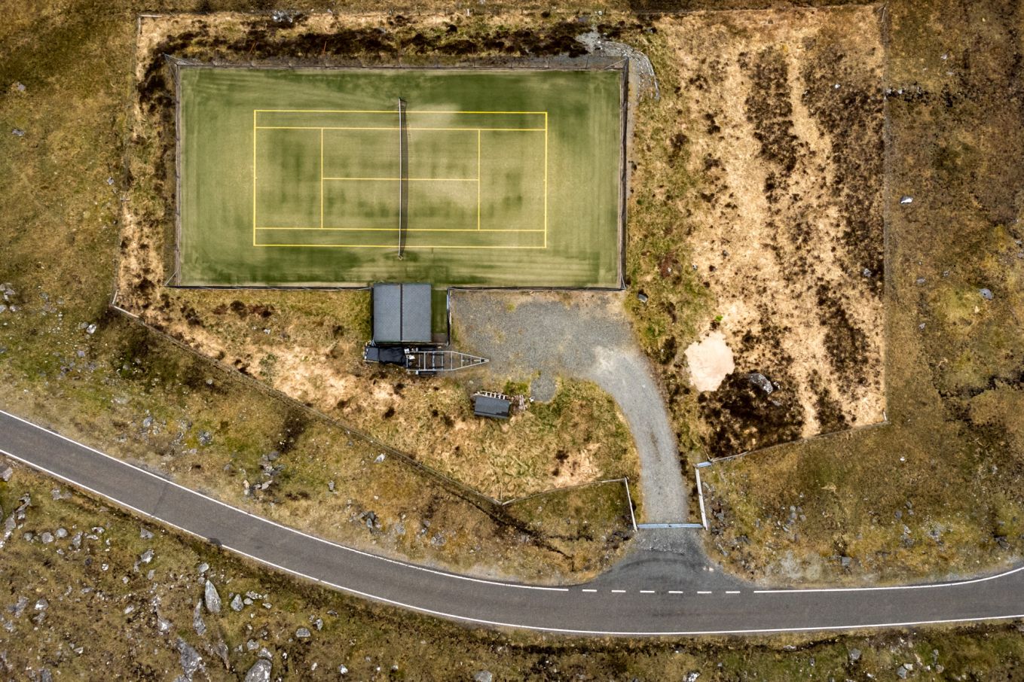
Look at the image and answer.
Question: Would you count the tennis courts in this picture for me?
one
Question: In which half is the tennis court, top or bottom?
top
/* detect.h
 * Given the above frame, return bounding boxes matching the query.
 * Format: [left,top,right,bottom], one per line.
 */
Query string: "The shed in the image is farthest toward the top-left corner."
[372,282,433,343]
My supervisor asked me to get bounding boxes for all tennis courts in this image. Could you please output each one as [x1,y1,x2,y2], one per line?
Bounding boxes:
[176,66,624,345]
